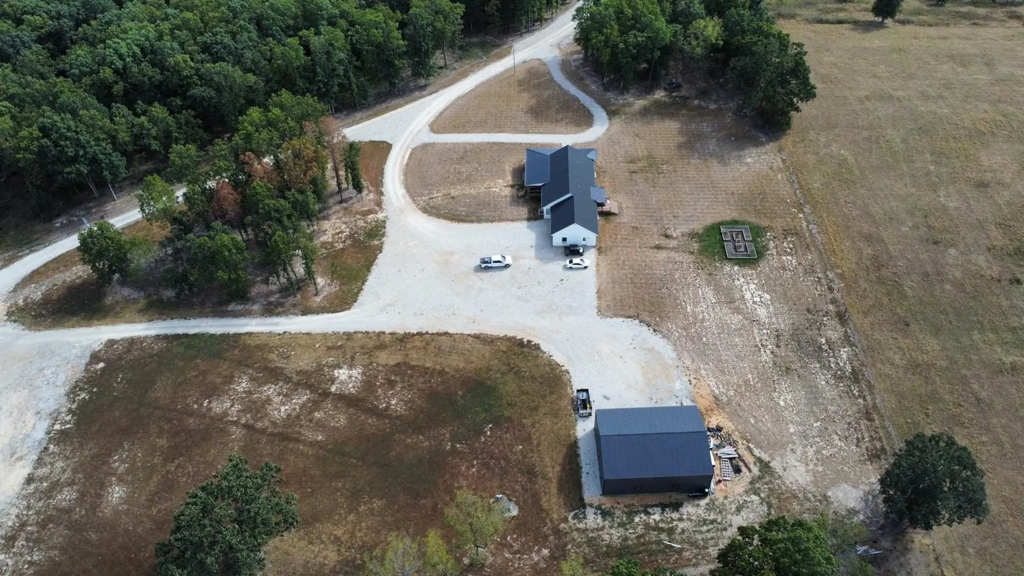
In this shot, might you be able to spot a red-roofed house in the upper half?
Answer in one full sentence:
No, I can find no red-roofed house in the upper half.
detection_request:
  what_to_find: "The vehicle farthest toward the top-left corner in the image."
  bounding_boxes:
[480,255,512,269]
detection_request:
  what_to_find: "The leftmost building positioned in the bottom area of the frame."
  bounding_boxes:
[590,403,717,496]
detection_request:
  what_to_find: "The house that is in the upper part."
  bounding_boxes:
[525,144,618,249]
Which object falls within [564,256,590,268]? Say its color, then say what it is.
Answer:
white vehicle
